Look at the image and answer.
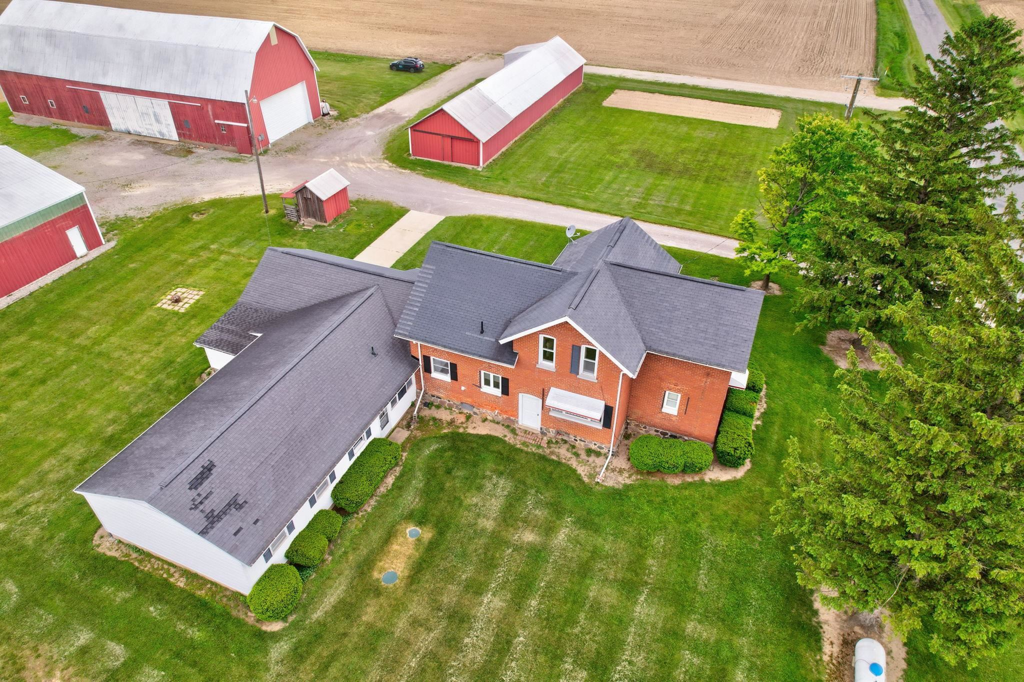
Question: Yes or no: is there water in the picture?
No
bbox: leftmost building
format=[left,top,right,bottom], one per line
[0,143,105,298]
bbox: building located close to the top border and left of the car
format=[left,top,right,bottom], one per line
[0,0,323,157]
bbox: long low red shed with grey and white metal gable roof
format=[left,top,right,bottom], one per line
[404,35,586,166]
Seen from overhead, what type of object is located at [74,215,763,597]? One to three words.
house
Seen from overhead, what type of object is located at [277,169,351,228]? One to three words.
shed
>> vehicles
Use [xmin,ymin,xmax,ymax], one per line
[387,54,426,72]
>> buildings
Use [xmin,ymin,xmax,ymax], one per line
[404,35,586,166]
[74,215,763,597]
[277,169,351,228]
[0,0,323,157]
[0,143,105,298]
